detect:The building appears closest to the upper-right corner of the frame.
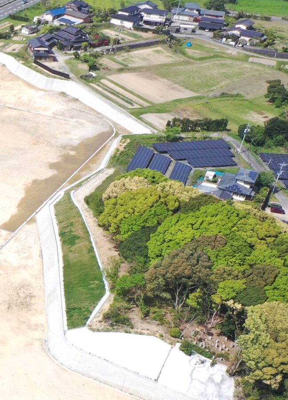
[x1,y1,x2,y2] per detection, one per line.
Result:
[226,19,266,41]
